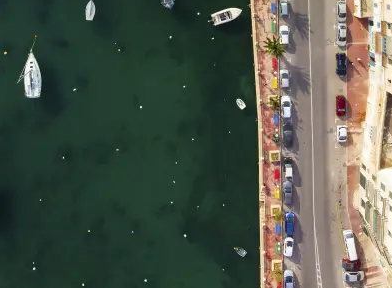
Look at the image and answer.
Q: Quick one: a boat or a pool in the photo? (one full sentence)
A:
The image shows a boat.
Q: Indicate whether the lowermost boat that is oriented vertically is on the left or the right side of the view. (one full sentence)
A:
The lowermost boat that is oriented vertically is on the left side of the image.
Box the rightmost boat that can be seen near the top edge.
[209,9,242,28]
